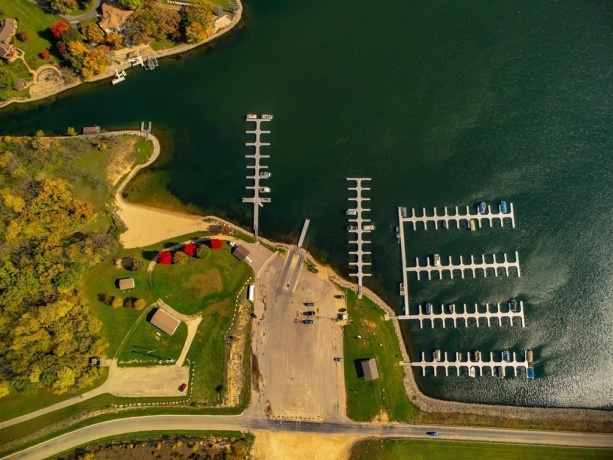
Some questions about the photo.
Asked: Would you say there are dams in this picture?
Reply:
No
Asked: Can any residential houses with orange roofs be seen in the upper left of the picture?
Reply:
Yes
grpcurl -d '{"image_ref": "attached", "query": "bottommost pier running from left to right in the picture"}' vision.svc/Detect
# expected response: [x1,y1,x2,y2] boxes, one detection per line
[399,351,530,377]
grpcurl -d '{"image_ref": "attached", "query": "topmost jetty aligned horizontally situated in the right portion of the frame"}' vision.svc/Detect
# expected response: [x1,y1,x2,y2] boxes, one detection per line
[402,203,517,231]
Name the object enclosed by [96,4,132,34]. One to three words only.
house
